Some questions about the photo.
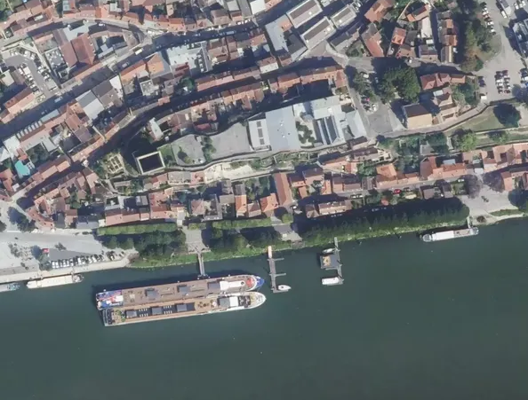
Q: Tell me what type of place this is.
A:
residential area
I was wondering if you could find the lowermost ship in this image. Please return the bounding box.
[102,293,267,327]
